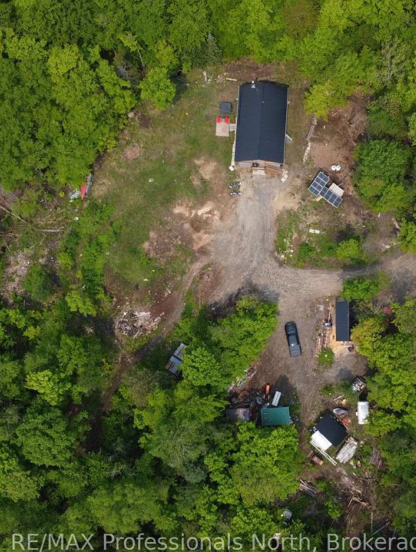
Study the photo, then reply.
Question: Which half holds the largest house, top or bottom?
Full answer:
Seen from above, the largest house lies in the top half of the view.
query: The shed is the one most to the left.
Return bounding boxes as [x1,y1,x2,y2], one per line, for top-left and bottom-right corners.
[227,406,251,423]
